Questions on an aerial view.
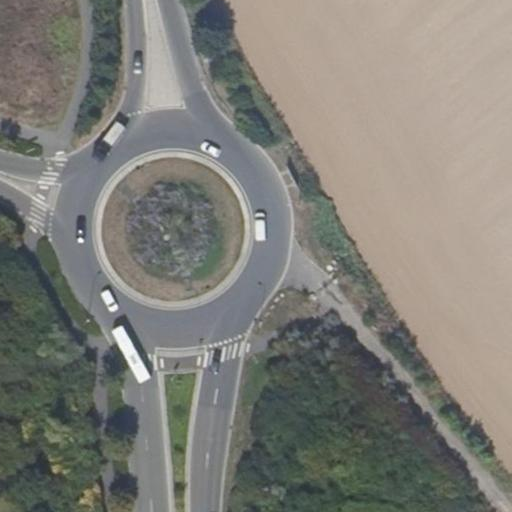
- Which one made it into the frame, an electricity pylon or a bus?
bus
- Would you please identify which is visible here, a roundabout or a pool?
roundabout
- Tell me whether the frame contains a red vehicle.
No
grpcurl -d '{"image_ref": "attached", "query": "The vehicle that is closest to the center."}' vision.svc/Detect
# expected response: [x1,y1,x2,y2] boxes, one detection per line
[254,212,266,241]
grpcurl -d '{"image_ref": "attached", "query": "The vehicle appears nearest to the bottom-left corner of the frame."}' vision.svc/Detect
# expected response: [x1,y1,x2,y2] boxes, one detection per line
[112,325,152,386]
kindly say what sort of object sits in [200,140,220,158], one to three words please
car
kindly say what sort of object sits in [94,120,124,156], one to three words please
truck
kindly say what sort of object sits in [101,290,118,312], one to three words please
car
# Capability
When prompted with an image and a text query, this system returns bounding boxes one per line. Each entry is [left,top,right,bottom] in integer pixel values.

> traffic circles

[52,109,292,350]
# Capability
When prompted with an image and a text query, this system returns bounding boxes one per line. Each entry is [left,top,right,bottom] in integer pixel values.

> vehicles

[101,290,118,312]
[132,54,143,75]
[94,120,124,156]
[76,221,86,243]
[212,352,222,374]
[254,212,266,241]
[200,140,220,158]
[112,325,152,386]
